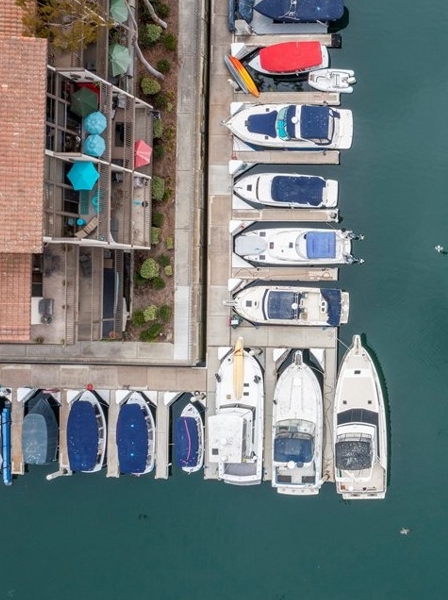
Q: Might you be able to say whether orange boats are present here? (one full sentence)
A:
Yes, there is an orange boat in the image.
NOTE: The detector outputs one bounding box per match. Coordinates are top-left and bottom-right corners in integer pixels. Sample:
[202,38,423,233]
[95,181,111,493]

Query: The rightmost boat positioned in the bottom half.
[333,335,390,500]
